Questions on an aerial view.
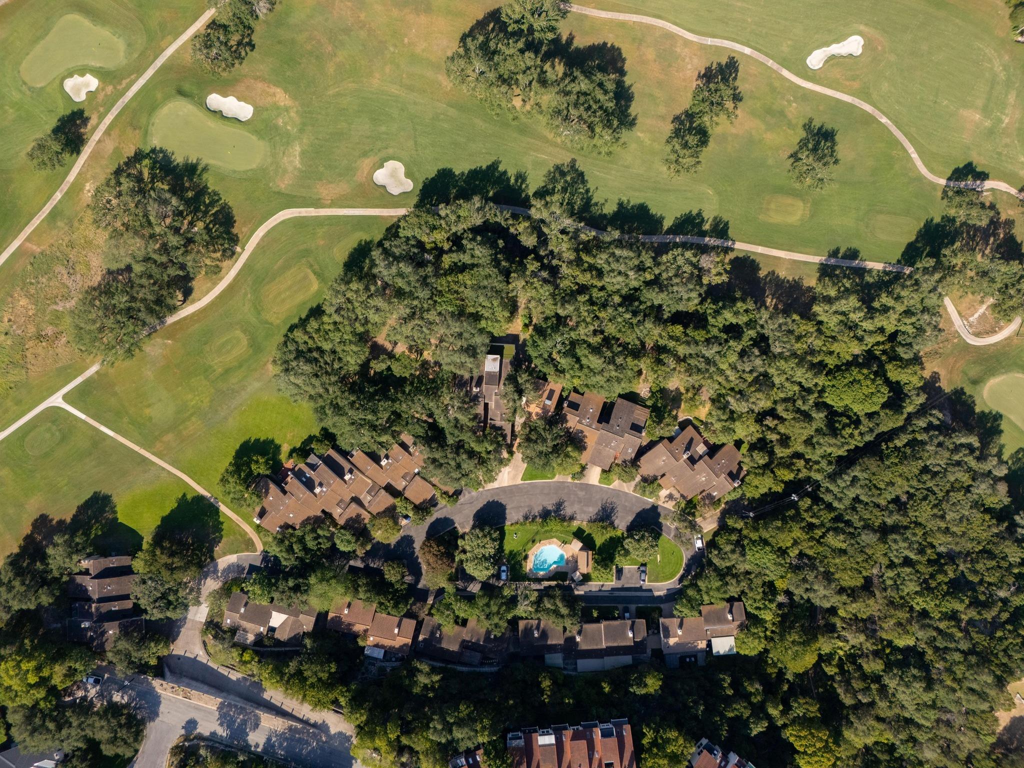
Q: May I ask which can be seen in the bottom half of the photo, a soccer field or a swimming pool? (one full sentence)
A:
It is a swimming pool that can be seen in the bottom half of the photo.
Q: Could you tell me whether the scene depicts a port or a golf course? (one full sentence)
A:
The area seen from above is a golf course.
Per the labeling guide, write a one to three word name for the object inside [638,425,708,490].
house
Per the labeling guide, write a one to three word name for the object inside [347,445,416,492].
house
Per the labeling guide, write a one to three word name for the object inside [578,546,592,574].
building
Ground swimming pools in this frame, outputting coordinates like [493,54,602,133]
[527,539,578,580]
